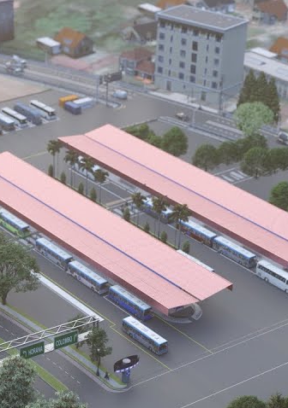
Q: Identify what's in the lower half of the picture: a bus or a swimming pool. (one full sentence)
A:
Visible in the lower half of the picture is a bus.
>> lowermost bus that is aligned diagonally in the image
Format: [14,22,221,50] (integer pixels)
[123,316,167,356]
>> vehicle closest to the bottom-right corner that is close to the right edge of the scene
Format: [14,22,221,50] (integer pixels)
[256,262,288,295]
